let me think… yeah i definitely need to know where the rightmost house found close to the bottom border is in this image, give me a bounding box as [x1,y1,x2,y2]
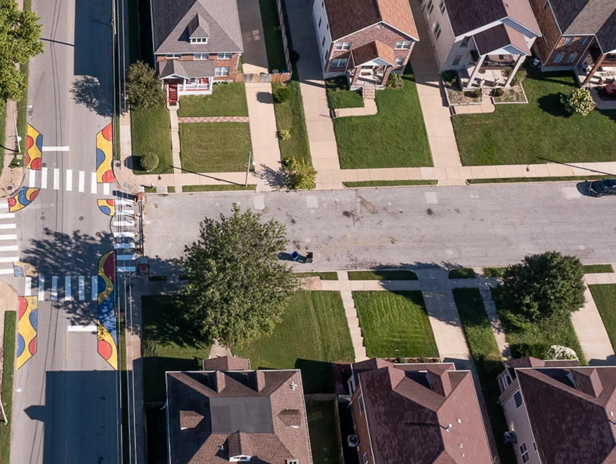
[489,344,616,464]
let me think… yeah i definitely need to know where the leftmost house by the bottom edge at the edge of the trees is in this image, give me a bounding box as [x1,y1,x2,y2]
[163,352,314,464]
